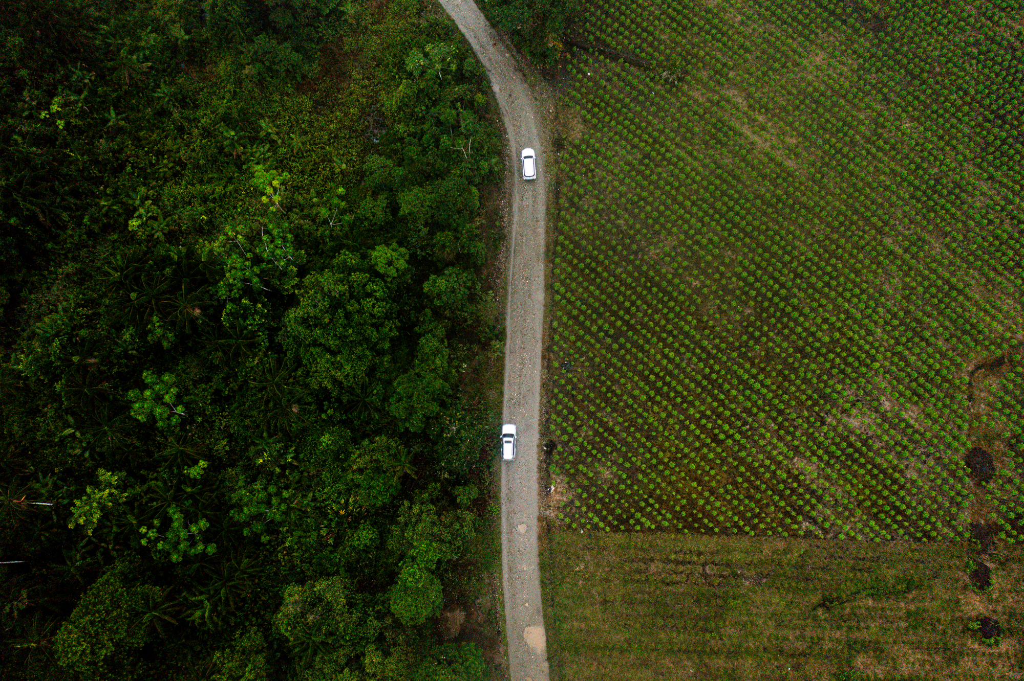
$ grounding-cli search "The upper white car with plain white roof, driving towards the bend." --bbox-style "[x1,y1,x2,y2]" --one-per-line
[521,148,537,181]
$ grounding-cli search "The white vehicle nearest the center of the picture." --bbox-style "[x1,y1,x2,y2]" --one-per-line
[501,424,517,461]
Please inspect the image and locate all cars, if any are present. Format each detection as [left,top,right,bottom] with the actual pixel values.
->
[501,424,517,461]
[521,148,537,181]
